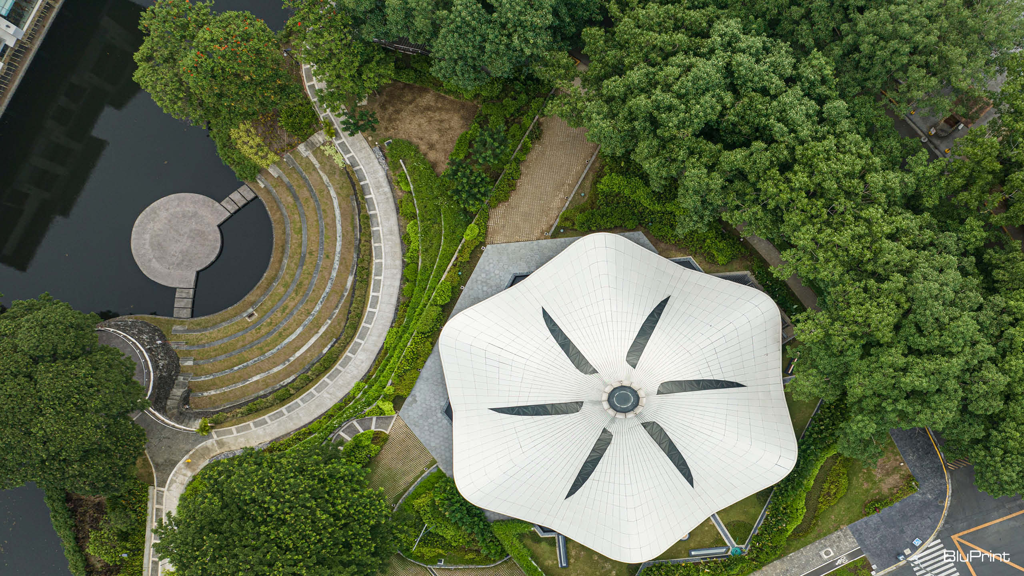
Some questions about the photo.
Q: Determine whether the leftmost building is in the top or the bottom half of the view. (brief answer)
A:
bottom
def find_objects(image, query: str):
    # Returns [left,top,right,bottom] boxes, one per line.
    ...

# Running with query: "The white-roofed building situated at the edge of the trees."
[438,231,799,564]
